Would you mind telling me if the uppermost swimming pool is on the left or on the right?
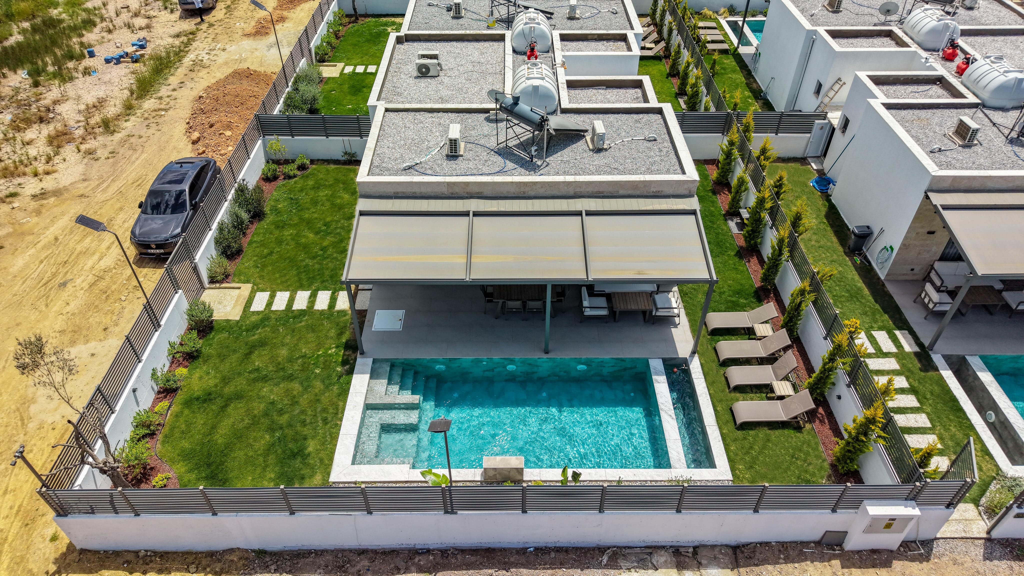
right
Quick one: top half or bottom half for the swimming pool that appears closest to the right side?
bottom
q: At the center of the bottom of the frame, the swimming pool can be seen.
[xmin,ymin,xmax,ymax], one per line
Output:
[329,358,732,482]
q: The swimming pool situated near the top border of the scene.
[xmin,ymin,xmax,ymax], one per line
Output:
[719,21,760,49]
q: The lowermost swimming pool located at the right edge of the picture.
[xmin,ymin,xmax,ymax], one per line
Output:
[932,355,1024,476]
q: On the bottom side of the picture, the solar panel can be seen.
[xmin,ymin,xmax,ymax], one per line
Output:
[429,420,453,433]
